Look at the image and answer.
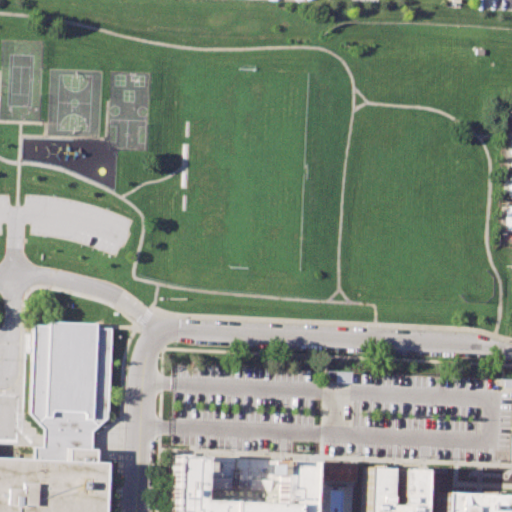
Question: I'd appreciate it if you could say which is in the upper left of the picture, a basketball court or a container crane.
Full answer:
There is a basketball court in the upper left of the picture.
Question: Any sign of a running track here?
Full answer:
No, I can't see a single running track in this photo.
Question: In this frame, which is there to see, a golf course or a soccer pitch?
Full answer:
This aerial view contains a soccer pitch.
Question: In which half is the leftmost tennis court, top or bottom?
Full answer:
The leftmost tennis court sits in the top half of the picture.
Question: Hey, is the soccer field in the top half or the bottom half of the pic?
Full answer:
The soccer field sits in the top half of the picture.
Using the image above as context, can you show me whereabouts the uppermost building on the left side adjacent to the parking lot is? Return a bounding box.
[30,323,113,461]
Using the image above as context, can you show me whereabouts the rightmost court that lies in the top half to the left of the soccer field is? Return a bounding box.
[109,72,150,150]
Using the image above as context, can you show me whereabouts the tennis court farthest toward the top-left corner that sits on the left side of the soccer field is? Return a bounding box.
[0,40,44,120]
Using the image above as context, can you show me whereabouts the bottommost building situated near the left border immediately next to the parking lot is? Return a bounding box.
[0,448,112,512]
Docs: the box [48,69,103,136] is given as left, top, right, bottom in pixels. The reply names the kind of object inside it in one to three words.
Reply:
basketball court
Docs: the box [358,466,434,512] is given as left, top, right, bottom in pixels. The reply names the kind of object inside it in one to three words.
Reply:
building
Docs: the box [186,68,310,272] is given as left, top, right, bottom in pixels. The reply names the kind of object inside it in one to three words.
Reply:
soccer field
